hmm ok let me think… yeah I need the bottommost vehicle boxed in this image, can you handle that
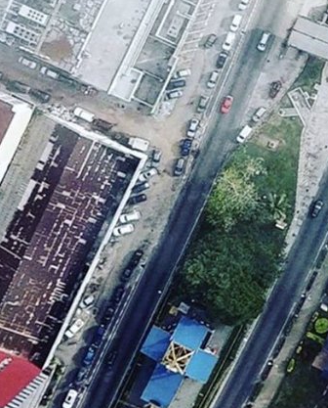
[63,390,77,408]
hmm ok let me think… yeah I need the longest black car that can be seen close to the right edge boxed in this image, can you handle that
[310,198,322,218]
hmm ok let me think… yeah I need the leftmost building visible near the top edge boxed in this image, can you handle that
[0,0,104,72]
